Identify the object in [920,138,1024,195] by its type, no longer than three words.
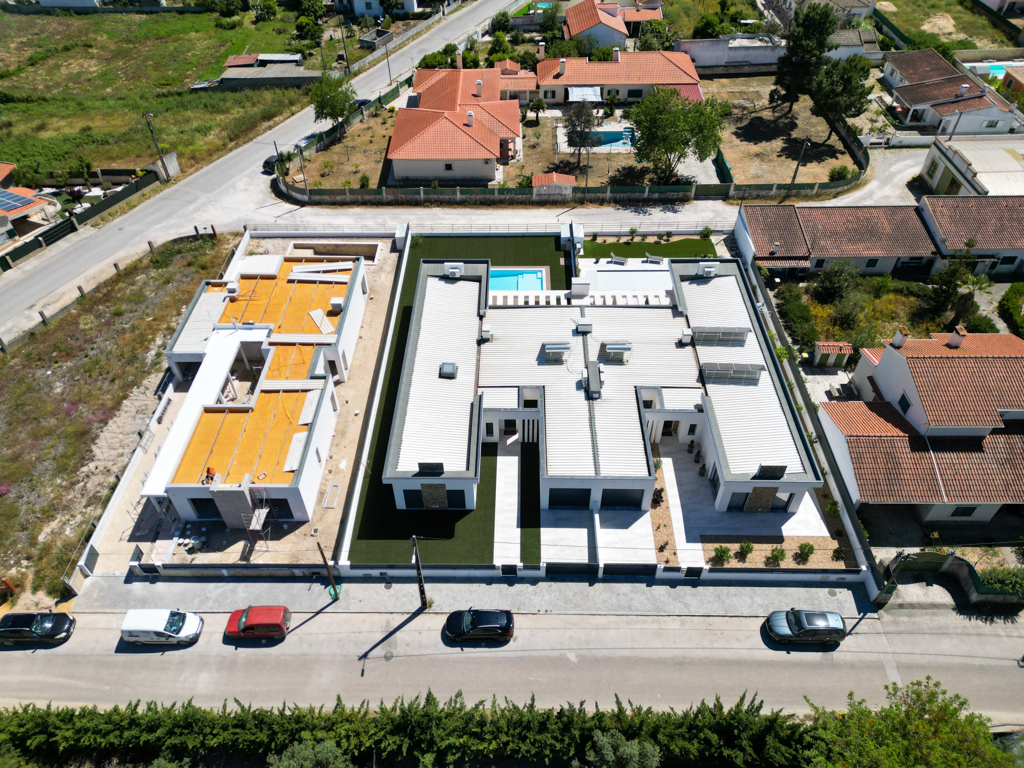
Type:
barn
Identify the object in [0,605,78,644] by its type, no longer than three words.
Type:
car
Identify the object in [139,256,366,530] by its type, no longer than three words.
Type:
house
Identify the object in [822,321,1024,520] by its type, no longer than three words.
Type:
house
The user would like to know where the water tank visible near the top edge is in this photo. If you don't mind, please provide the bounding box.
[357,26,394,49]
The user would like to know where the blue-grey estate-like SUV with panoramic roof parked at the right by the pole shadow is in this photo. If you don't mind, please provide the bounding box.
[763,613,855,655]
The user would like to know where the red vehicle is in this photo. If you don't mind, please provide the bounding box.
[223,602,295,641]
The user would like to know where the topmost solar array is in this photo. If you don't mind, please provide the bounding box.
[0,188,35,211]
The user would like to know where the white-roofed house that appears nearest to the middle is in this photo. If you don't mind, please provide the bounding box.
[382,258,601,510]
